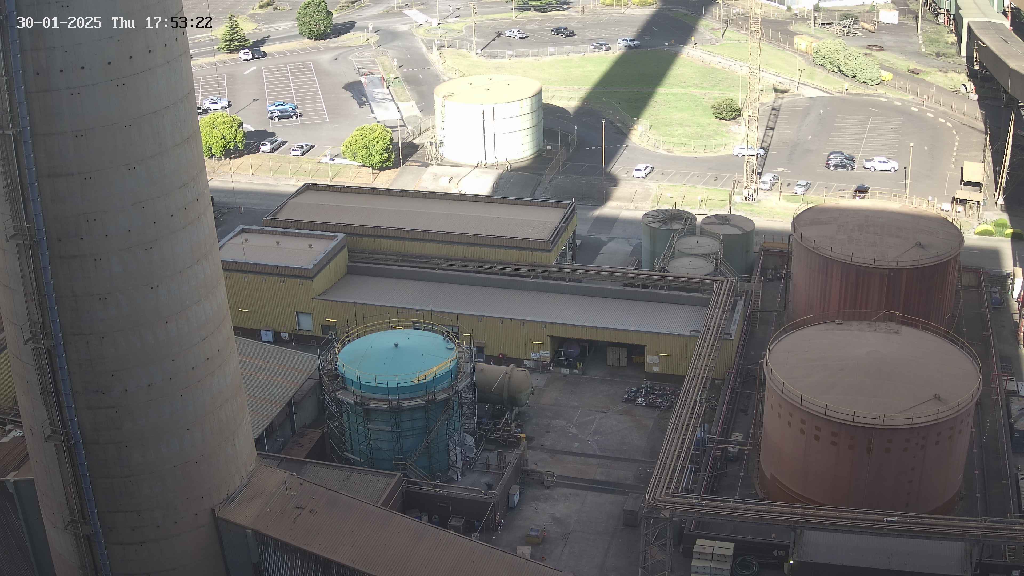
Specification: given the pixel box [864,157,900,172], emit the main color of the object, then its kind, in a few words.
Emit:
white vehicle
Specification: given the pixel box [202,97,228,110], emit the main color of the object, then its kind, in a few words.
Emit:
white vehicle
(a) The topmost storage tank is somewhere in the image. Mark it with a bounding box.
[434,73,546,166]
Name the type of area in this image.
industrial area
